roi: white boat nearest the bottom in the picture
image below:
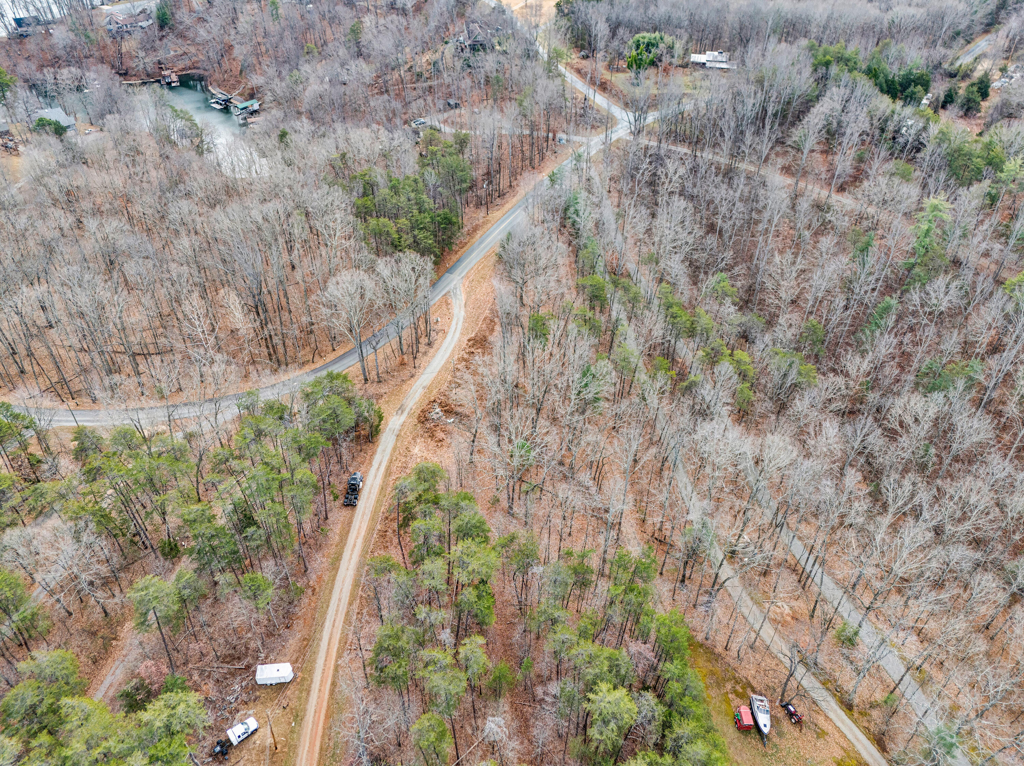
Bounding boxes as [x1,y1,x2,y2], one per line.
[753,693,772,751]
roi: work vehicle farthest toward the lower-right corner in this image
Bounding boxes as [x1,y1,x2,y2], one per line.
[778,701,806,726]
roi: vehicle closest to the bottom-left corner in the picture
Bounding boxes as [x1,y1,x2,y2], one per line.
[214,719,261,756]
